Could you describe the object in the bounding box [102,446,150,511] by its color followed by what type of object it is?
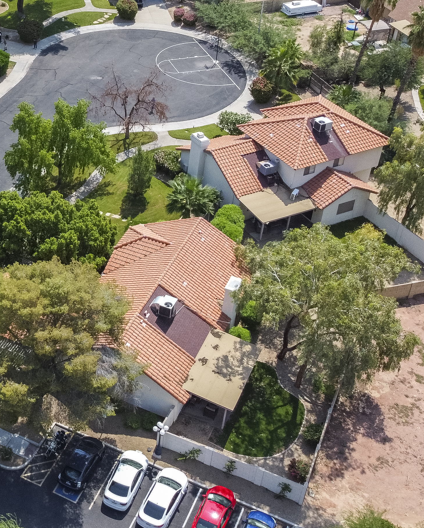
white car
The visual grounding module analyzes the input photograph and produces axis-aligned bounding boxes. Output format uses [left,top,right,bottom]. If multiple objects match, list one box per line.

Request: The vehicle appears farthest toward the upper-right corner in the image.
[284,2,322,16]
